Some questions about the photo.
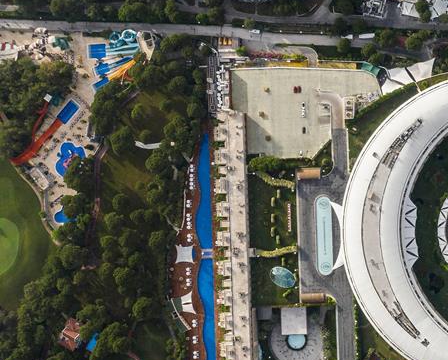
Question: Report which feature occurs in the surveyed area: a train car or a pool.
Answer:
pool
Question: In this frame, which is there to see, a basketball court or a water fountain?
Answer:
water fountain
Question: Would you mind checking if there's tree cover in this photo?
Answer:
Yes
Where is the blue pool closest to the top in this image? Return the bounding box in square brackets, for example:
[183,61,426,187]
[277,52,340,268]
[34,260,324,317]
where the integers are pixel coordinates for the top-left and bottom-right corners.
[88,43,107,60]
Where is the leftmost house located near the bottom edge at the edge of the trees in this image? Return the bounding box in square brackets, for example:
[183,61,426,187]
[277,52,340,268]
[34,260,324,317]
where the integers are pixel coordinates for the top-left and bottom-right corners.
[59,318,83,352]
